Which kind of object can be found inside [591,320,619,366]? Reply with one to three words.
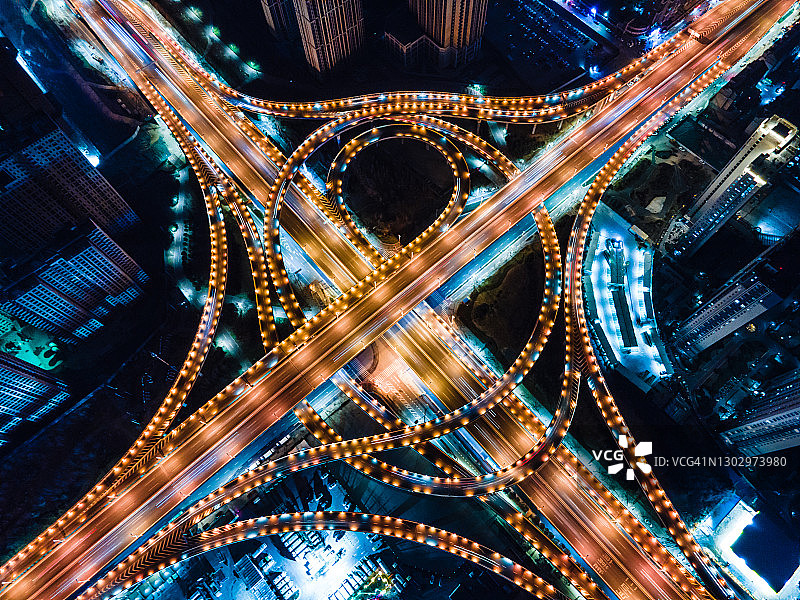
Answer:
shed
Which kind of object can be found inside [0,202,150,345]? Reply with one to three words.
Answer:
building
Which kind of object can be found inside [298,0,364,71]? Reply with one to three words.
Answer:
building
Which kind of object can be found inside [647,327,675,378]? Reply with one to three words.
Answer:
shed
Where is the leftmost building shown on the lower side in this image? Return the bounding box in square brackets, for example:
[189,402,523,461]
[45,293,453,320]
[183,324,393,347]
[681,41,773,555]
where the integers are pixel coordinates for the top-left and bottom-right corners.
[0,338,70,438]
